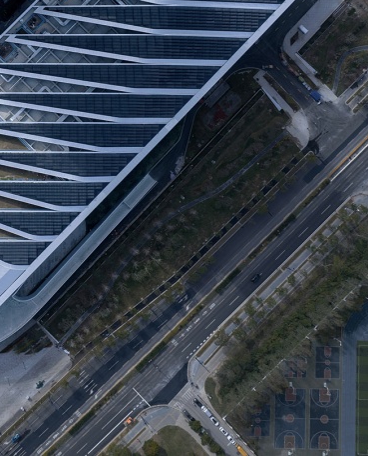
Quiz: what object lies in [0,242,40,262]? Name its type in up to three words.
solar array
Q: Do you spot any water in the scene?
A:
No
